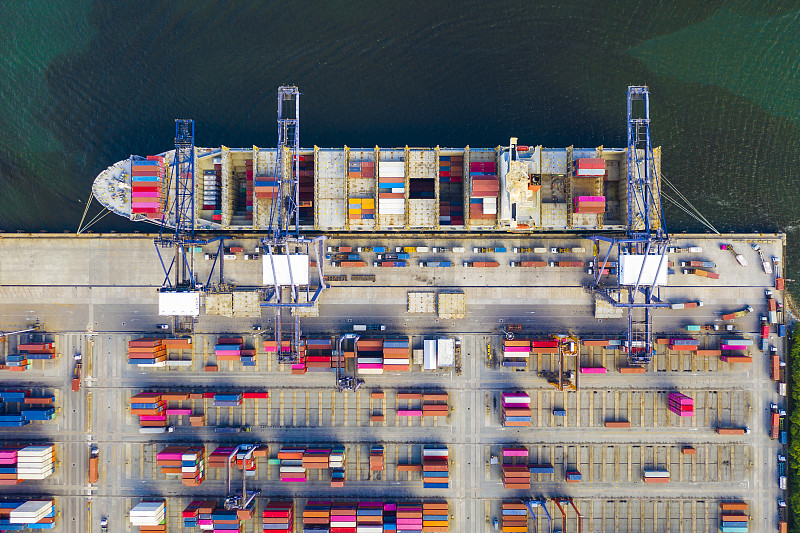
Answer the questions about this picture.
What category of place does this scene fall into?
port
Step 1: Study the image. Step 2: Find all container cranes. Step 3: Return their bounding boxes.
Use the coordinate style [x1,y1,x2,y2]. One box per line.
[259,86,335,363]
[552,496,586,533]
[155,117,238,334]
[584,84,673,365]
[227,441,259,512]
[523,498,555,533]
[338,334,362,399]
[546,332,581,392]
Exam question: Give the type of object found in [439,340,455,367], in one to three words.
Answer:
shed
